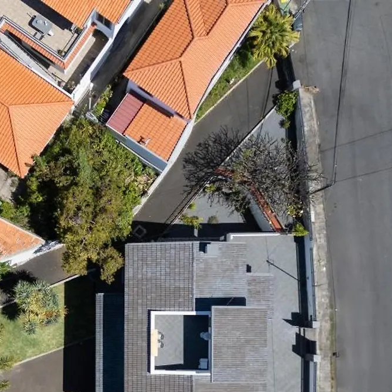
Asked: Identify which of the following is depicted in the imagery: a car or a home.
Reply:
home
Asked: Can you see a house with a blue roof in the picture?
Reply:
No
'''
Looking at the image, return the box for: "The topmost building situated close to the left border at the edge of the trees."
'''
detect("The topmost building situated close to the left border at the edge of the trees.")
[0,0,137,111]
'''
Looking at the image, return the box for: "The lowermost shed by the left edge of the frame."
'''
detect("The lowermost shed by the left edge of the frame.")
[0,219,53,268]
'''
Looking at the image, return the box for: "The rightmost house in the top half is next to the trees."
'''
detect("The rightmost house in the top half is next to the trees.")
[104,0,270,215]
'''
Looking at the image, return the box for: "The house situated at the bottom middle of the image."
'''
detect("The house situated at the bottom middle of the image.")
[96,242,272,392]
